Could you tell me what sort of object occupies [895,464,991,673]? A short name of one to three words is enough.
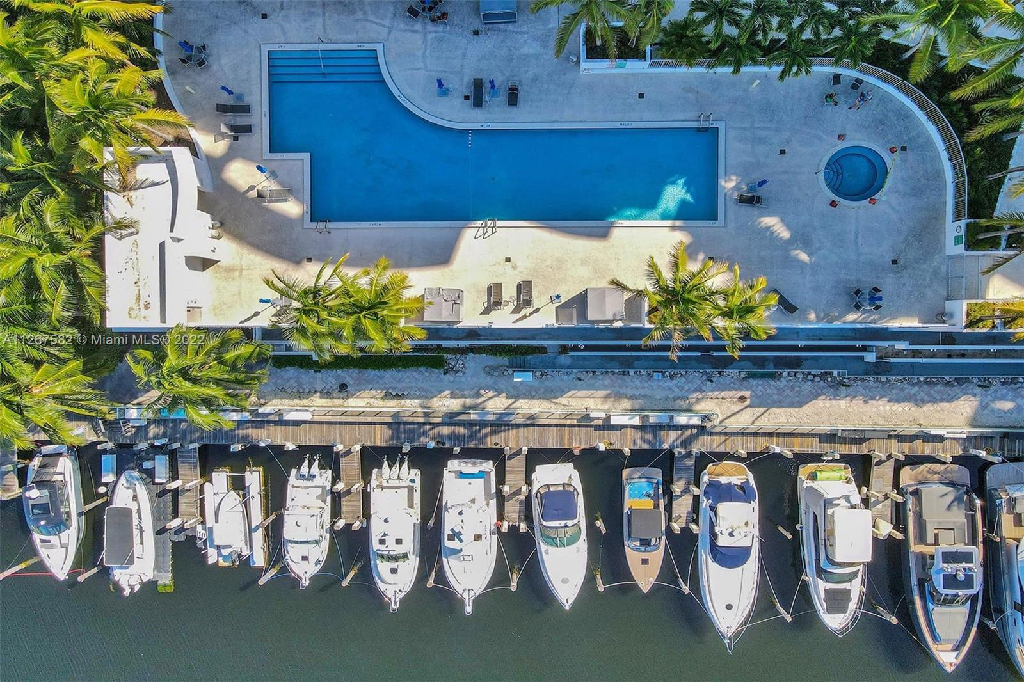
boat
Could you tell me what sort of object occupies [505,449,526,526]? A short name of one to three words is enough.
pier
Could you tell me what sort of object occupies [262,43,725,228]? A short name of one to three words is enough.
swimming pool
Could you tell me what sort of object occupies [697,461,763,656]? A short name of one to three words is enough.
boat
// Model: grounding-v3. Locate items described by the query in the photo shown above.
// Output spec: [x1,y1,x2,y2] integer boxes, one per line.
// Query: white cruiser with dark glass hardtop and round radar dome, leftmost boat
[19,446,87,581]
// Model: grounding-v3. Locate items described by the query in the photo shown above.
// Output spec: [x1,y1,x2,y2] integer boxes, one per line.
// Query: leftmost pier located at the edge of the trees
[0,440,22,500]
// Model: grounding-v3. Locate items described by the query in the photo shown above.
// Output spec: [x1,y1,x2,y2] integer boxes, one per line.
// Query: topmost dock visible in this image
[1,421,1024,457]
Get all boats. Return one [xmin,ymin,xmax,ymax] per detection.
[281,456,335,589]
[976,461,1024,682]
[793,463,879,641]
[19,446,87,581]
[622,467,668,593]
[97,470,159,595]
[367,456,422,613]
[895,464,991,673]
[531,463,588,610]
[218,489,250,568]
[697,461,763,656]
[441,460,497,615]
